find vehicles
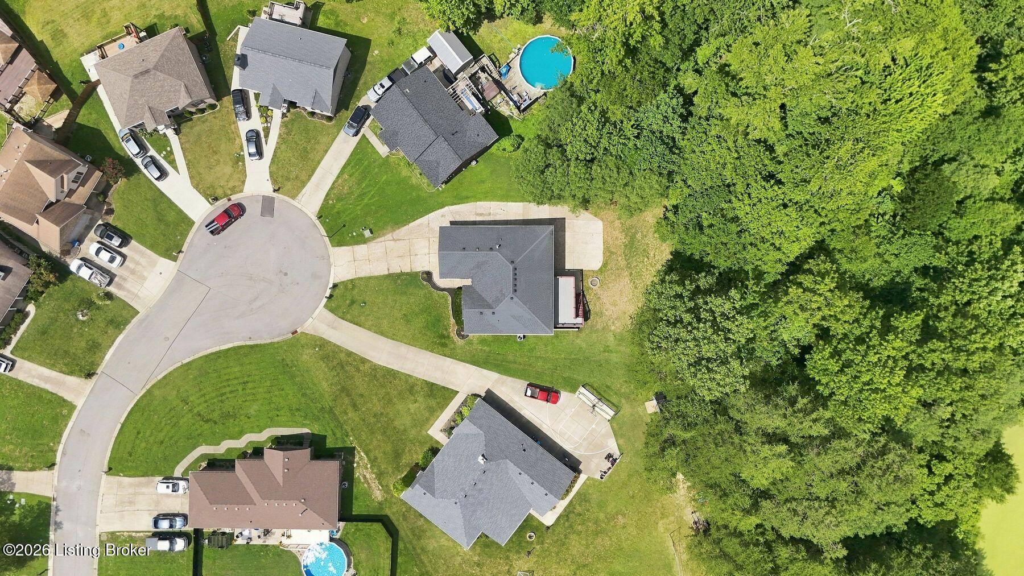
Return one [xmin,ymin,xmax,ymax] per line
[145,535,190,554]
[243,128,263,161]
[67,256,114,291]
[203,204,246,236]
[0,353,16,373]
[154,478,188,497]
[229,87,250,123]
[138,153,170,186]
[152,513,188,531]
[342,102,370,139]
[116,128,151,161]
[524,385,561,405]
[367,60,410,104]
[401,42,436,74]
[88,240,127,269]
[93,221,132,249]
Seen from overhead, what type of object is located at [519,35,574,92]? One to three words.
swimming pool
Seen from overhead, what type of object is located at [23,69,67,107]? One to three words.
gazebo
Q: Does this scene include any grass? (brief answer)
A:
Yes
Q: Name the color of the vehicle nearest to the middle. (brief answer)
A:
red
